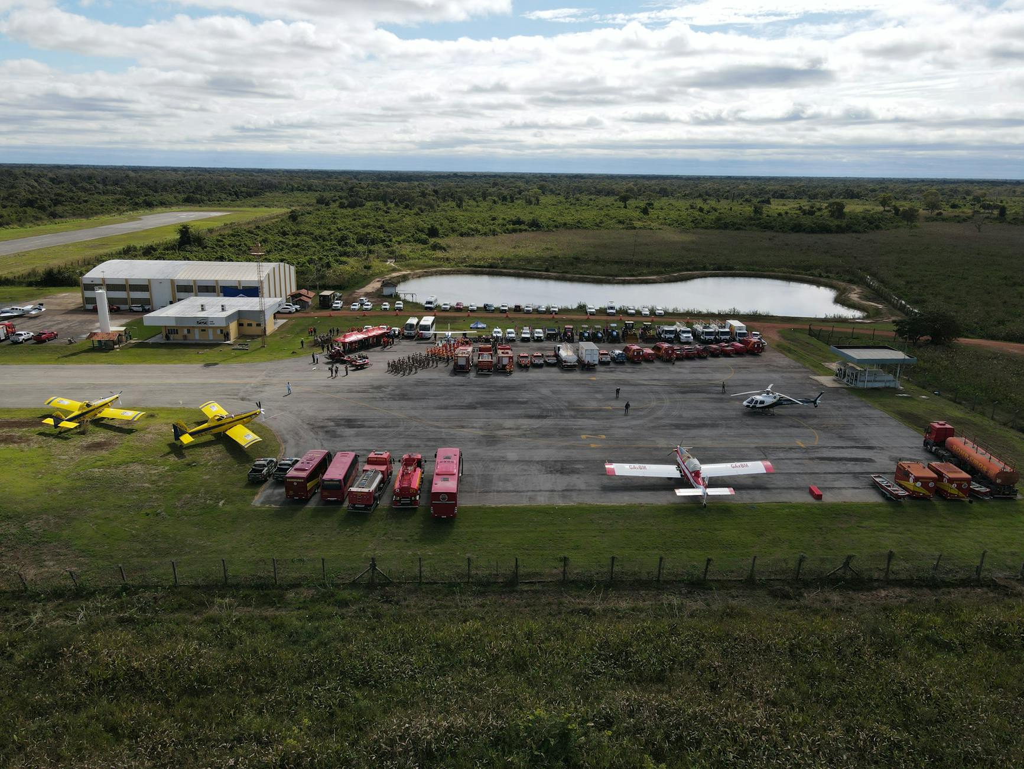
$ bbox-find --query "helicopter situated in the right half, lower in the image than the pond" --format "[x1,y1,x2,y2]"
[727,386,830,417]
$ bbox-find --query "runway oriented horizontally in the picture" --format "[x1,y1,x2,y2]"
[0,212,227,256]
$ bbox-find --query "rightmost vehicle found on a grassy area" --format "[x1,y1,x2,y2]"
[920,422,1017,492]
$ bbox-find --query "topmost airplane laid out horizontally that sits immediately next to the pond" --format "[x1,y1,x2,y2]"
[422,325,480,344]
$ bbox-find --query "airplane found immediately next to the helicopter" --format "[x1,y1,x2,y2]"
[602,439,772,506]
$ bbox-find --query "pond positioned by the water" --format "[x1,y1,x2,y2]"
[398,275,864,318]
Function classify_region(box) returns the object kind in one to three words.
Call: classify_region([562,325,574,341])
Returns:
vehicle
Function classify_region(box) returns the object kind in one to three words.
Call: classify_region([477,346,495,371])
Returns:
vehicle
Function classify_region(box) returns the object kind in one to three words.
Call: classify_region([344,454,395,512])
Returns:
truck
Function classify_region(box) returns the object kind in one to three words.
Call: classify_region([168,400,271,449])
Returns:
airplane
